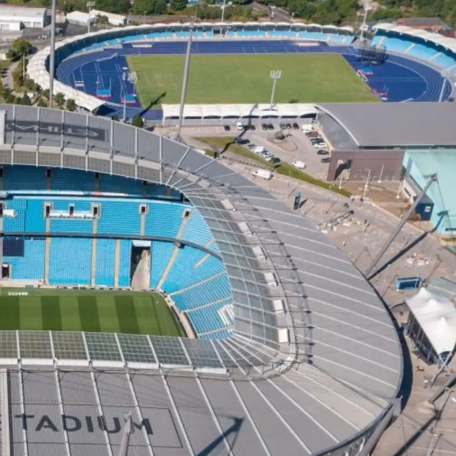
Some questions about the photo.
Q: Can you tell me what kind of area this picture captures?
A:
sports ground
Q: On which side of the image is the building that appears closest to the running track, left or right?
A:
right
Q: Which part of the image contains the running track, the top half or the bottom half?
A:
top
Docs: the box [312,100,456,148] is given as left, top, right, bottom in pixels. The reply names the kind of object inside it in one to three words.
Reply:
building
